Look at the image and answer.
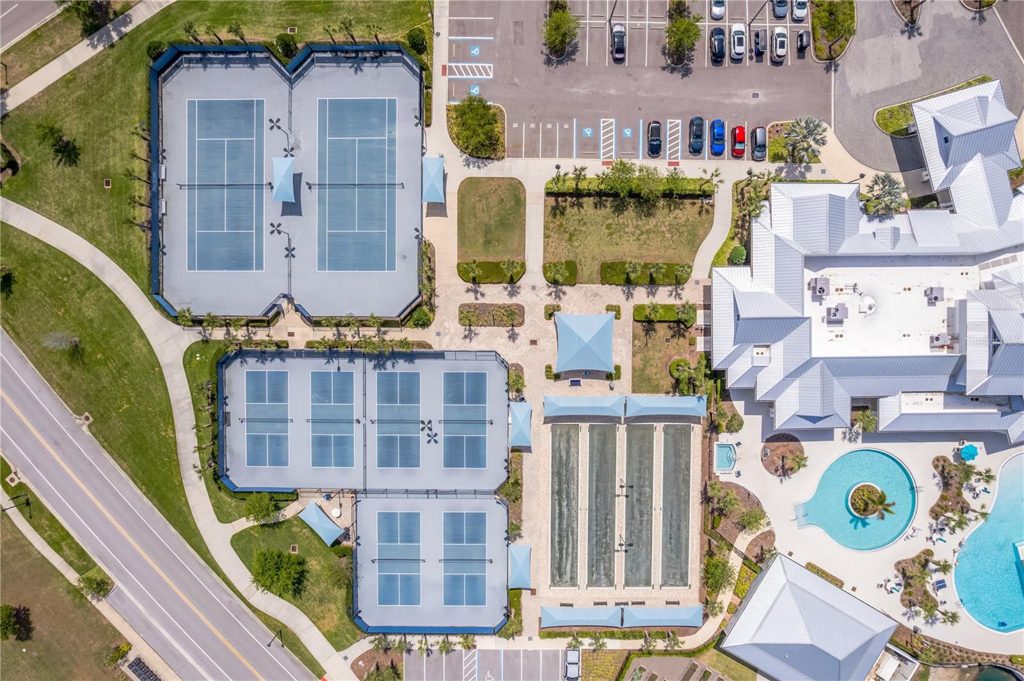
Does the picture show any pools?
Yes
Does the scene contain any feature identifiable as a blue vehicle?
Yes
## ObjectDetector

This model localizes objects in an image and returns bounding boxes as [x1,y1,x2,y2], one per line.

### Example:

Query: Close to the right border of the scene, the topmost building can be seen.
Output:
[707,78,1024,445]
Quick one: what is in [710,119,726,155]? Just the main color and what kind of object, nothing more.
blue car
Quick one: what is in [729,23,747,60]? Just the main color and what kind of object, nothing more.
white car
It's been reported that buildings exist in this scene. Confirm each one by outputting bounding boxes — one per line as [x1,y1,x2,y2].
[707,78,1024,445]
[721,552,899,681]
